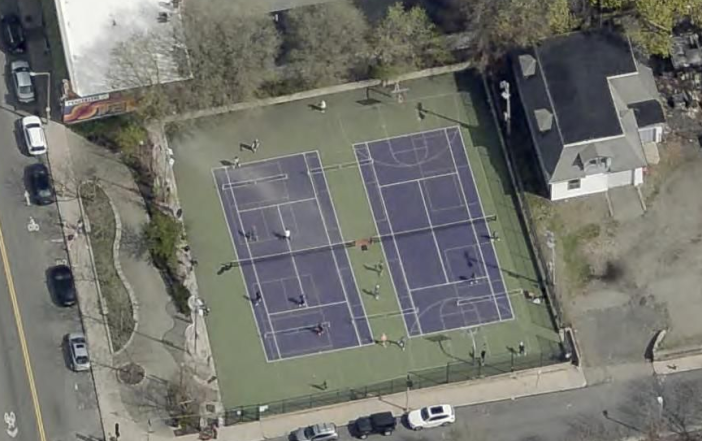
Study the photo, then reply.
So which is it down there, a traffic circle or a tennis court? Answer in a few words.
tennis court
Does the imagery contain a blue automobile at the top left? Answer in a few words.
No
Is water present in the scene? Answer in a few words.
No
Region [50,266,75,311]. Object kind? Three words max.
car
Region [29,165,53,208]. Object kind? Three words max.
car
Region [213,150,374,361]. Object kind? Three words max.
tennis court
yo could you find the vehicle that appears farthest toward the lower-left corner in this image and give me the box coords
[66,333,90,374]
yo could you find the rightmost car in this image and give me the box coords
[407,405,457,432]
